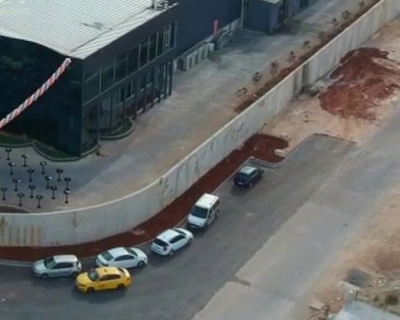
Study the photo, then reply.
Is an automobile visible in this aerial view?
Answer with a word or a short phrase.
Yes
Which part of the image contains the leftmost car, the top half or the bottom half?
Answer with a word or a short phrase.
bottom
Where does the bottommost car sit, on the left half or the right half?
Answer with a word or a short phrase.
left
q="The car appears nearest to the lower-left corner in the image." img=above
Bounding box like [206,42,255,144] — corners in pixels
[33,255,82,279]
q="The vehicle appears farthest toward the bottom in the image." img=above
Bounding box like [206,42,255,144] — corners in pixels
[76,267,132,293]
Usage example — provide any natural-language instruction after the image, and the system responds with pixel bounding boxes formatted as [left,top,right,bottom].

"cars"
[147,225,197,255]
[76,267,132,293]
[33,255,82,279]
[230,166,268,189]
[96,248,149,270]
